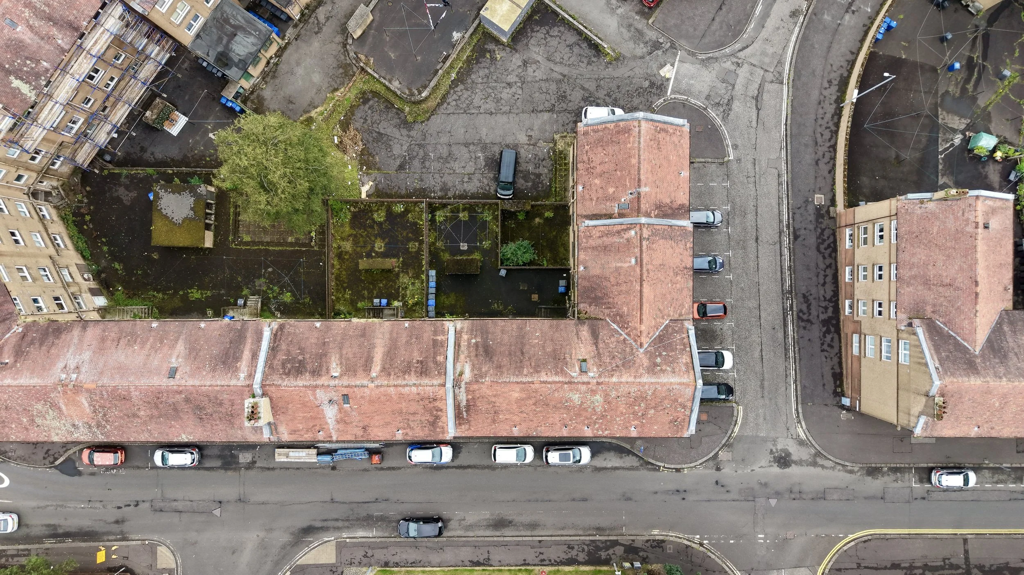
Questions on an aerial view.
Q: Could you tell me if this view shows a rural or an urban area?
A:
urban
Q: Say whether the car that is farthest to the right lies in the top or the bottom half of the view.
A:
bottom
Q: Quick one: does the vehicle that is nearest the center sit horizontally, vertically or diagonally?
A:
vertically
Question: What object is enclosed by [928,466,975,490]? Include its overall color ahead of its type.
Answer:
white car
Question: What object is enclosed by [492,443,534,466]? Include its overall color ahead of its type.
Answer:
white car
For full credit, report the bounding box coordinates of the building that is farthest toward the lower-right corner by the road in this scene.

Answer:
[851,309,1024,439]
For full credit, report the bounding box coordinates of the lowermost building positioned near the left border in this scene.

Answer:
[0,318,267,443]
